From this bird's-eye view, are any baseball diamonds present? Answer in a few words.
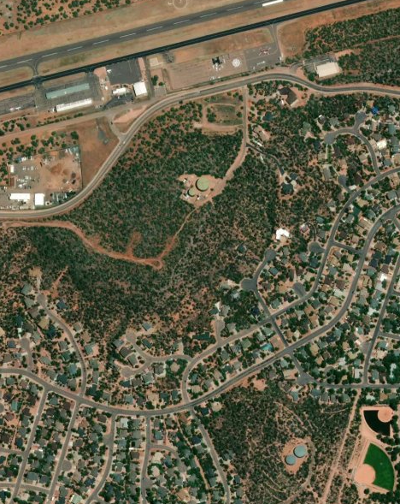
Yes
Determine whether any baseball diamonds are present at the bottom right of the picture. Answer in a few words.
Yes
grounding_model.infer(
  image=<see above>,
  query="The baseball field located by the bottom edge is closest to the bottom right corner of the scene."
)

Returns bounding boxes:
[354,440,397,493]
